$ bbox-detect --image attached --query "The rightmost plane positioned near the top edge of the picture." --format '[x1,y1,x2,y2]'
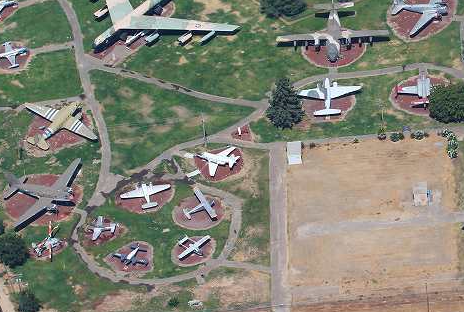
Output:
[389,0,449,33]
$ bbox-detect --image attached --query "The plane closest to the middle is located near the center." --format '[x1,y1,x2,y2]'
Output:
[196,147,243,176]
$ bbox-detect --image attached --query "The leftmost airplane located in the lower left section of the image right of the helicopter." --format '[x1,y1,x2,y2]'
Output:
[86,215,117,239]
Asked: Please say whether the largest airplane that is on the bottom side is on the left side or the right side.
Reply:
left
